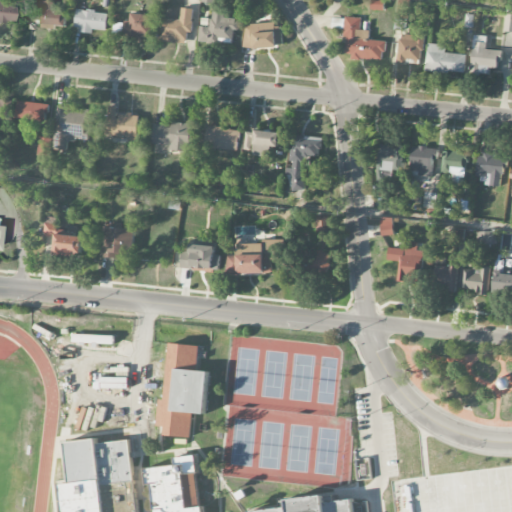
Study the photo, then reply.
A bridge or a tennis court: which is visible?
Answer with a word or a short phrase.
tennis court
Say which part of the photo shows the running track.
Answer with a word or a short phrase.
bottom left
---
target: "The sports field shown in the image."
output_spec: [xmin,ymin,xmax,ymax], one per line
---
[0,334,46,512]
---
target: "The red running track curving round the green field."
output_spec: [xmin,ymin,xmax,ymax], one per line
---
[0,320,59,512]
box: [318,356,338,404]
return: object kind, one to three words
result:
tennis court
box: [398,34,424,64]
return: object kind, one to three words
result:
house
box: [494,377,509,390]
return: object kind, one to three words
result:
gazebo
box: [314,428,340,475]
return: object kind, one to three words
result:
tennis court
